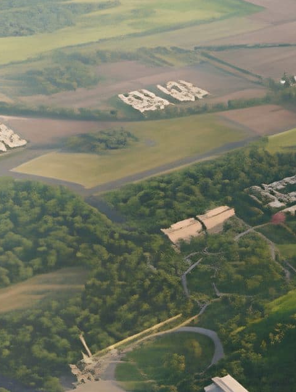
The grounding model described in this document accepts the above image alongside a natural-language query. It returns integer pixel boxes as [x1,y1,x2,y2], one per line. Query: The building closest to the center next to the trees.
[163,220,205,252]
